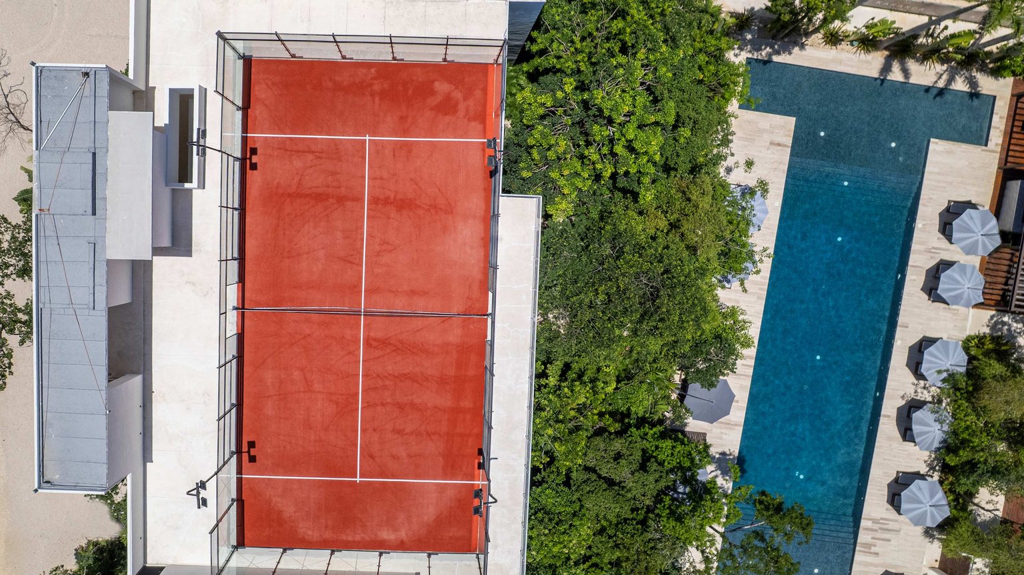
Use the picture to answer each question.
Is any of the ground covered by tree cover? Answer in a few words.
Yes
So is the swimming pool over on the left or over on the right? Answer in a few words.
right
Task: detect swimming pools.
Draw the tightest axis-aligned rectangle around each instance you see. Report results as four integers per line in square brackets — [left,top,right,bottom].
[715,56,998,575]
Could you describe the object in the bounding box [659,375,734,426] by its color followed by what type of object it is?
gray umbrella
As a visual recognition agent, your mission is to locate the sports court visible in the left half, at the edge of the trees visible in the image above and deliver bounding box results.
[236,57,495,555]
